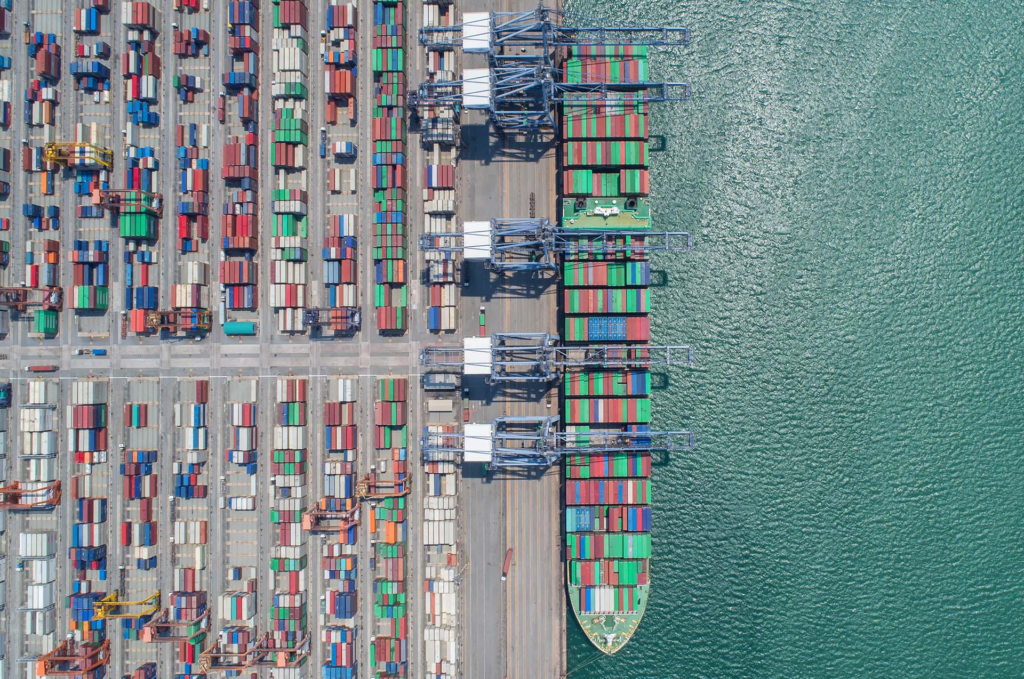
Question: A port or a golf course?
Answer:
port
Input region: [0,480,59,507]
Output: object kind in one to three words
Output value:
crane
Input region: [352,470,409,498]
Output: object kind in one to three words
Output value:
crane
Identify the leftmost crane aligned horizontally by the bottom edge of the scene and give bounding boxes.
[31,639,108,678]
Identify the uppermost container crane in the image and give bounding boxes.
[413,0,690,89]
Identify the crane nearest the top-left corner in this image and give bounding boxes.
[39,141,111,172]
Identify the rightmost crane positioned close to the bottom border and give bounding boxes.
[250,631,309,669]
